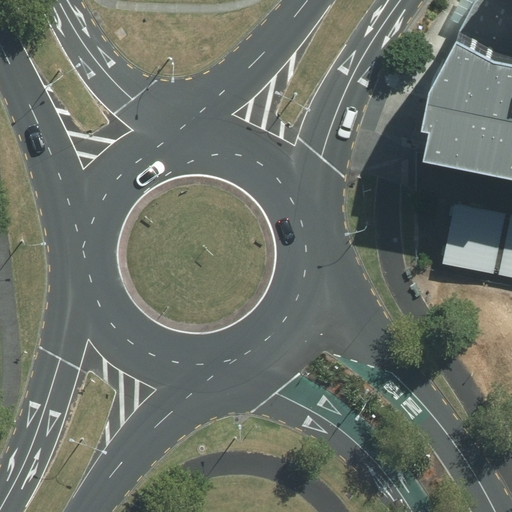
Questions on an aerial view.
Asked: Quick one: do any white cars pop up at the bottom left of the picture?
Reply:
No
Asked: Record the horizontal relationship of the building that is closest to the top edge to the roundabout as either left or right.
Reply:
to the right of it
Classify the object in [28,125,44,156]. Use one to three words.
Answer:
car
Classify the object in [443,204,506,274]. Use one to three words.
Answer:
shed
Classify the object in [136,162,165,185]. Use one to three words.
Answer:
car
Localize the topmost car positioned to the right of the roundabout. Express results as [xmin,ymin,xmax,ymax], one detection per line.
[339,106,357,138]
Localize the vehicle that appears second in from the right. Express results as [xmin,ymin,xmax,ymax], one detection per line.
[278,218,294,245]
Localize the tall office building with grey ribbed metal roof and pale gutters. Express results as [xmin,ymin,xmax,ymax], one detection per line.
[422,0,512,180]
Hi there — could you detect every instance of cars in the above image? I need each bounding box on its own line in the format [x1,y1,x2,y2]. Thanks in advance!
[278,218,294,245]
[136,162,165,185]
[339,106,357,138]
[28,125,44,156]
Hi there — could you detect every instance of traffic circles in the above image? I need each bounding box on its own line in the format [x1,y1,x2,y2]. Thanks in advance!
[48,116,335,392]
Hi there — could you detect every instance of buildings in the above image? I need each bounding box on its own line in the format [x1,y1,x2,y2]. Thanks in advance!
[422,0,512,180]
[443,204,506,274]
[497,216,512,278]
